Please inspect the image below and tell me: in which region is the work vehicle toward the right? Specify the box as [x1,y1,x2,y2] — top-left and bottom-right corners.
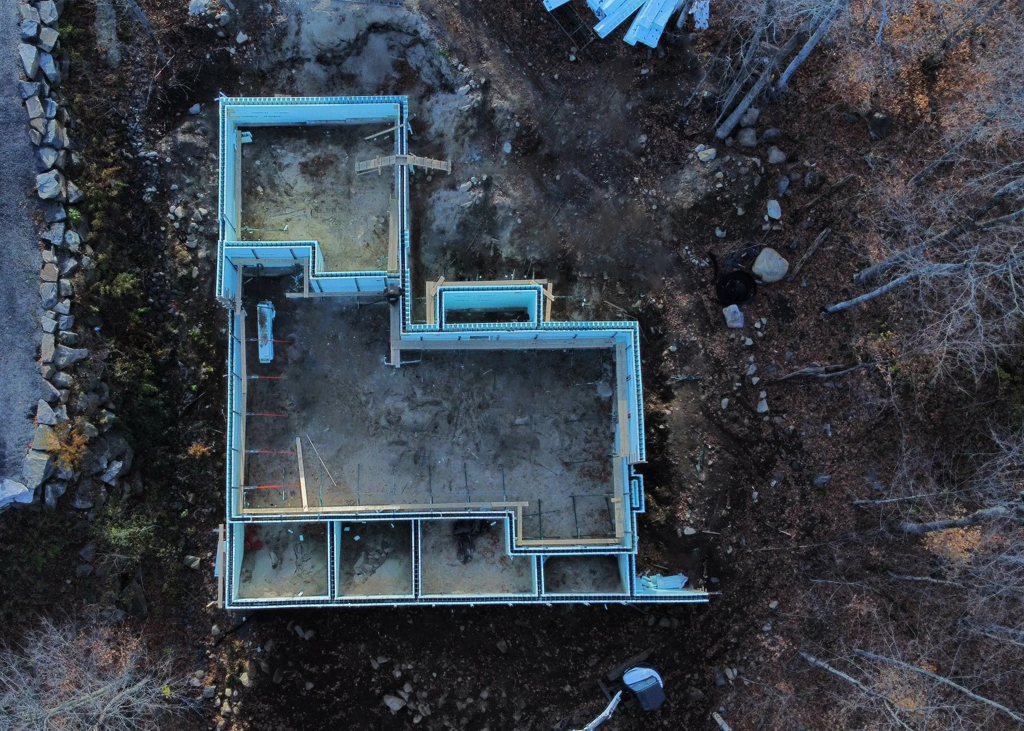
[582,653,665,731]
